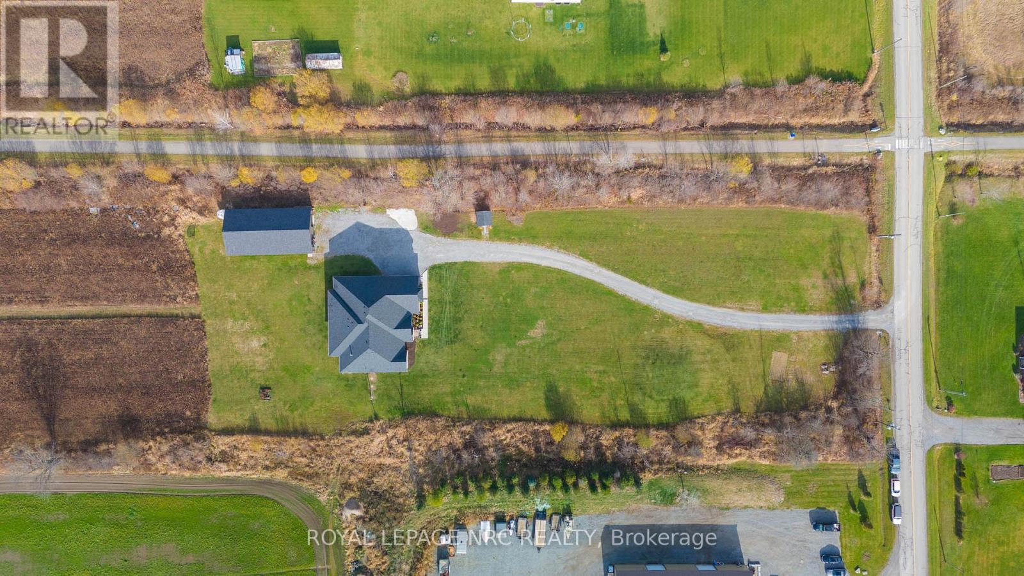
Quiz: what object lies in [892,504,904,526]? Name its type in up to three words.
vehicle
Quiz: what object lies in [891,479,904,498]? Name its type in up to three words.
vehicle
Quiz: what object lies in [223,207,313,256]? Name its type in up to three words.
barn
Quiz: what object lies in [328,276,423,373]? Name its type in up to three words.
house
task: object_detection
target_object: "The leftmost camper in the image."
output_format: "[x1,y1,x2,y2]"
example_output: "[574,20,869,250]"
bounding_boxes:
[223,44,242,72]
